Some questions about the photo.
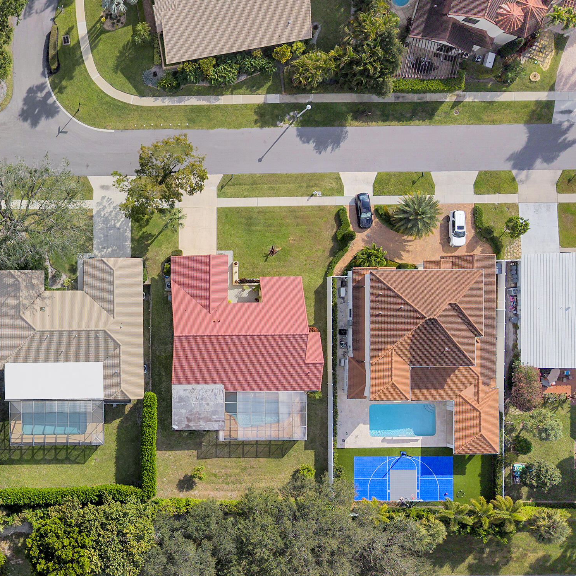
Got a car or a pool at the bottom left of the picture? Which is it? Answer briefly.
pool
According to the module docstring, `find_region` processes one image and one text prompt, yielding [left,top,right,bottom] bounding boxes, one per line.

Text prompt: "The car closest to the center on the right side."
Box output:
[353,193,373,229]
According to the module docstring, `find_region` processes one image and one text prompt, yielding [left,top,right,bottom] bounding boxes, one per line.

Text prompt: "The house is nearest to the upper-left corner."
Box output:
[152,0,313,65]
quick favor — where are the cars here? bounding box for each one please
[353,193,373,229]
[445,209,466,246]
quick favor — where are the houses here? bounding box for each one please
[342,253,500,454]
[0,257,144,399]
[510,253,576,368]
[401,0,550,57]
[170,253,325,430]
[152,0,313,65]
